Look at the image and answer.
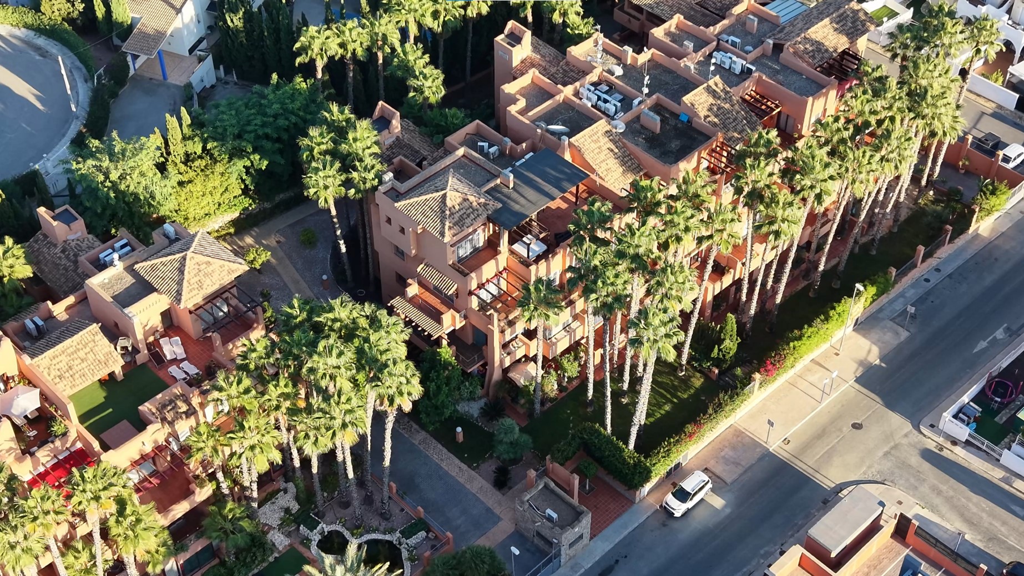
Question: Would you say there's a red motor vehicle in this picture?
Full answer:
No, the picture doesn't show any red motor vehicle.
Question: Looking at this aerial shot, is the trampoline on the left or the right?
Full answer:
The trampoline sits on the right side.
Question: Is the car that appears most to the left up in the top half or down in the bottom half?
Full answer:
The car that appears most to the left sits in the bottom half of the picture.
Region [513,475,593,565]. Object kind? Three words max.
shed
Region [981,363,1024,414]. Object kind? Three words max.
trampoline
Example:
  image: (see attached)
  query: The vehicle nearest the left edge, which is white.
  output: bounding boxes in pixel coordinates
[661,467,714,517]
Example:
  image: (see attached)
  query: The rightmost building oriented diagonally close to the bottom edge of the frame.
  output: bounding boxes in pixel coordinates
[804,484,886,568]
